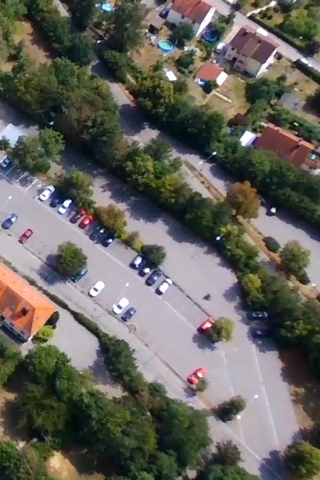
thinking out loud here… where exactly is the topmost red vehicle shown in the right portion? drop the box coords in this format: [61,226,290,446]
[196,317,215,335]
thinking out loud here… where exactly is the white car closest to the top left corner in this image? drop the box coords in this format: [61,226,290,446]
[37,185,55,202]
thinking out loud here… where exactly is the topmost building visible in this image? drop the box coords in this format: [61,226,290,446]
[168,0,221,29]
